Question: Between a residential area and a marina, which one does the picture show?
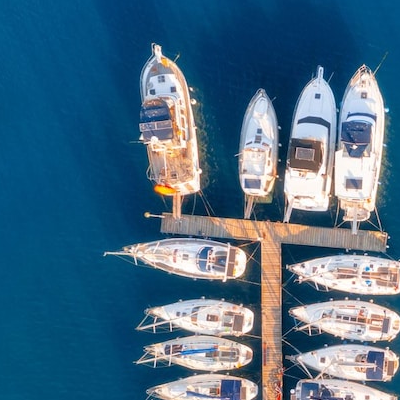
marina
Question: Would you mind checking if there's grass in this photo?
No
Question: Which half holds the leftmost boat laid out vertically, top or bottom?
top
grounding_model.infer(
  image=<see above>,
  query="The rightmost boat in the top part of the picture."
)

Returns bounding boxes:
[332,60,390,234]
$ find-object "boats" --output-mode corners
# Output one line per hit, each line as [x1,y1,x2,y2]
[283,373,400,400]
[332,60,390,234]
[283,250,400,298]
[283,297,400,343]
[131,299,262,338]
[280,62,338,227]
[232,85,284,226]
[152,184,177,194]
[141,370,262,400]
[128,334,262,373]
[101,234,263,281]
[283,340,400,381]
[125,42,209,219]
